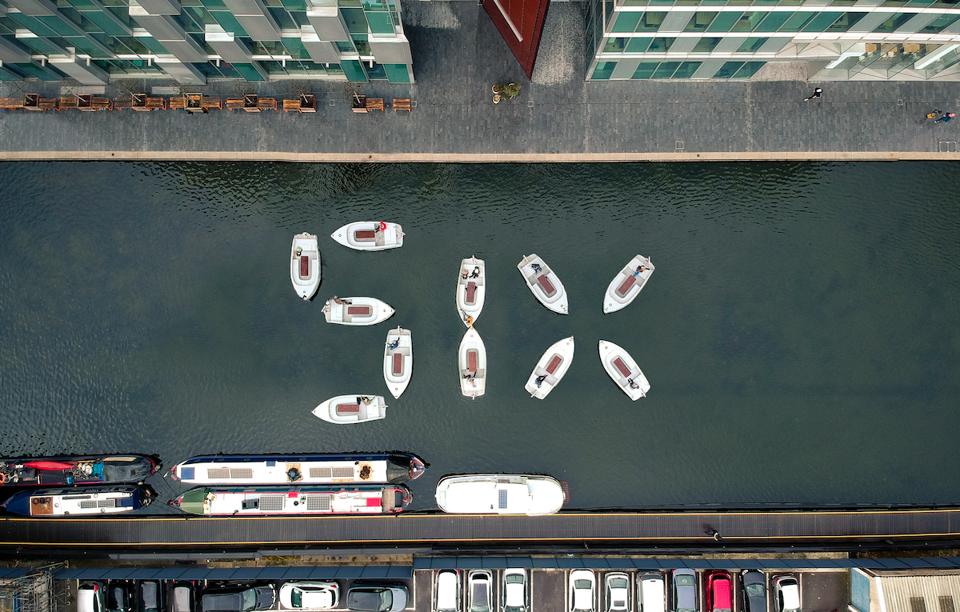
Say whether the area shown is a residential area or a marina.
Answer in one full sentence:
The picture captures a marina.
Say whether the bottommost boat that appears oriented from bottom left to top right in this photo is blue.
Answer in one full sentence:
No, the color of the bottommost boat that appears oriented from bottom left to top right is white.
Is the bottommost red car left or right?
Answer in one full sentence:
The bottommost red car is on the right side of the image.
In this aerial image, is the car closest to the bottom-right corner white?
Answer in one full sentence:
Yes, the car closest to the bottom-right corner is indeed white.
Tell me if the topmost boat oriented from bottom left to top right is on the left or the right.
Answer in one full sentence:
The topmost boat oriented from bottom left to top right sits on the right side.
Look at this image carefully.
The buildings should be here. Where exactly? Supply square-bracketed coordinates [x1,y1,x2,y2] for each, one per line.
[837,570,960,612]
[587,0,960,82]
[483,0,547,79]
[0,0,419,85]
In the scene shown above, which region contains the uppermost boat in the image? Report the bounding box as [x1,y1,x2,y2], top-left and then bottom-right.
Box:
[332,221,406,250]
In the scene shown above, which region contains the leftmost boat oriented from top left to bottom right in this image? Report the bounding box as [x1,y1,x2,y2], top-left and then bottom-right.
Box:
[518,254,569,315]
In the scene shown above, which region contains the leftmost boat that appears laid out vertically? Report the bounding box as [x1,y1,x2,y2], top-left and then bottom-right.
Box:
[292,230,321,301]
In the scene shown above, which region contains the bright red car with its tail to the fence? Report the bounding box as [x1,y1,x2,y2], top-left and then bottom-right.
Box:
[704,569,737,612]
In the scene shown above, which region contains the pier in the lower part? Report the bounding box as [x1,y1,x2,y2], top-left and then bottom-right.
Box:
[0,506,960,550]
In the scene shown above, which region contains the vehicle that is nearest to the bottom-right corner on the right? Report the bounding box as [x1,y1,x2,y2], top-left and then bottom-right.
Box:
[770,571,804,612]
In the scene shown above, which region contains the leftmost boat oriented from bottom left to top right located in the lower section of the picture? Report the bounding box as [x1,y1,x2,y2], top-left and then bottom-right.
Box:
[526,336,575,399]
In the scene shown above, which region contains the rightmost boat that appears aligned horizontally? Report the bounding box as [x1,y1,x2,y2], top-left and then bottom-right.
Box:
[434,472,569,517]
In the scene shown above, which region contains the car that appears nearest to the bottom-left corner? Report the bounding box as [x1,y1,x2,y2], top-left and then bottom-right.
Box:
[75,579,107,612]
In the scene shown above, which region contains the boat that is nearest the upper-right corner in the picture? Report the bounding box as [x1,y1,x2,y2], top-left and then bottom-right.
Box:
[603,254,654,314]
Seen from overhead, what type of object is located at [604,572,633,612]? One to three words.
car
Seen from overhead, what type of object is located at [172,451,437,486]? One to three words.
boat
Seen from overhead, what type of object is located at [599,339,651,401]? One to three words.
boat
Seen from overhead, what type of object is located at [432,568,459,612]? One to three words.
car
